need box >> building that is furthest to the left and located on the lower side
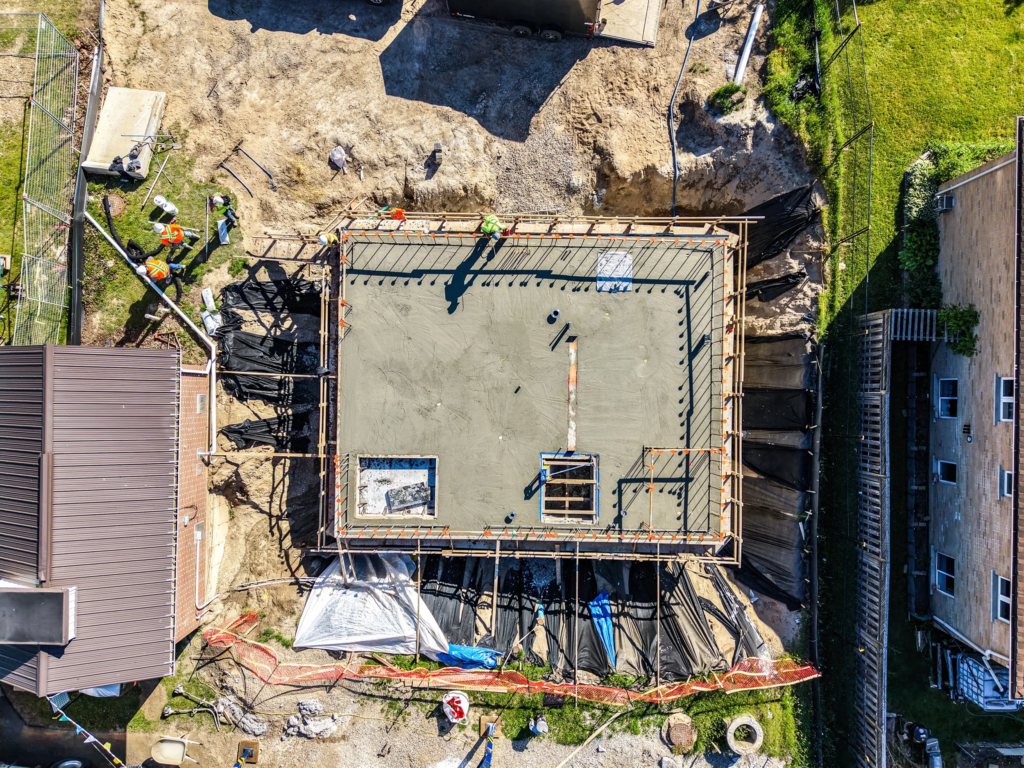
[0,346,236,706]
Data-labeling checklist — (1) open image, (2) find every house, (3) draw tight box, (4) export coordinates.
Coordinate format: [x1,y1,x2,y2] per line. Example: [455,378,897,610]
[929,114,1024,702]
[0,346,236,706]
